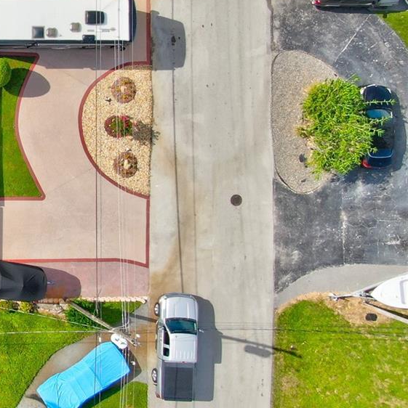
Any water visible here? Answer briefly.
No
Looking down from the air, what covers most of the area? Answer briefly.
paved ground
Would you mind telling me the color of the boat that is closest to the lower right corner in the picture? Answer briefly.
white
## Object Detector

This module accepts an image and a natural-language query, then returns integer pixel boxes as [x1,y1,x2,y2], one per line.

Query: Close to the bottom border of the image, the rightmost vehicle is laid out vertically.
[150,291,199,400]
